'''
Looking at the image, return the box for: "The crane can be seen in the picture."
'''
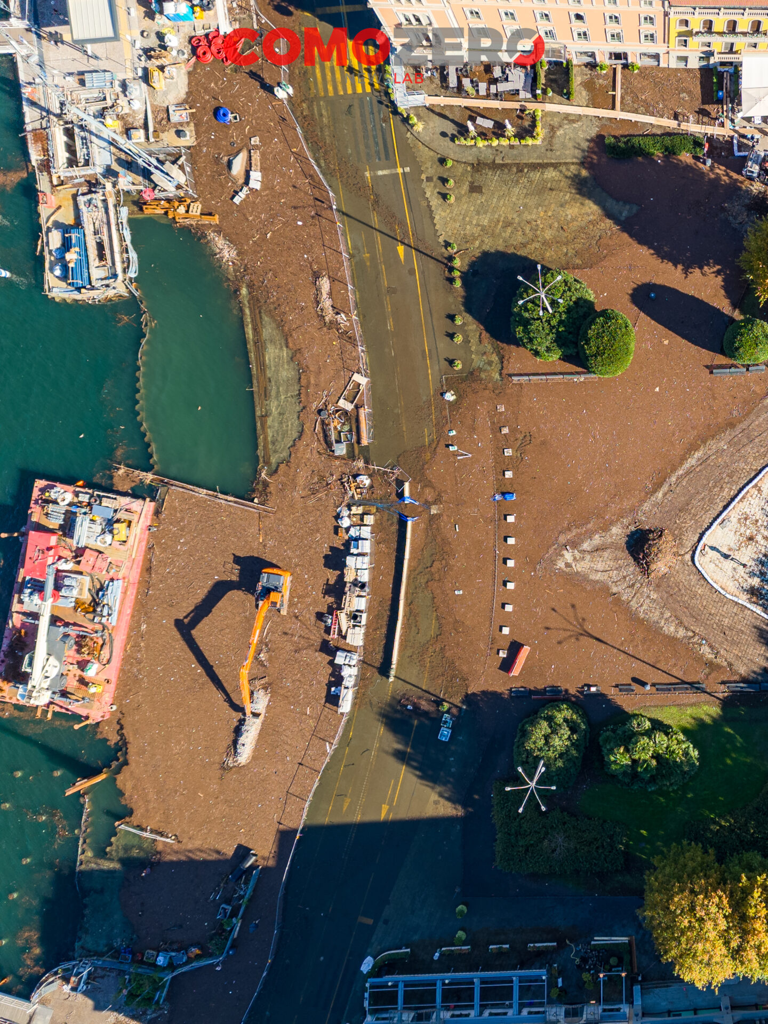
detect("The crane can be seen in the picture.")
[0,3,183,189]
